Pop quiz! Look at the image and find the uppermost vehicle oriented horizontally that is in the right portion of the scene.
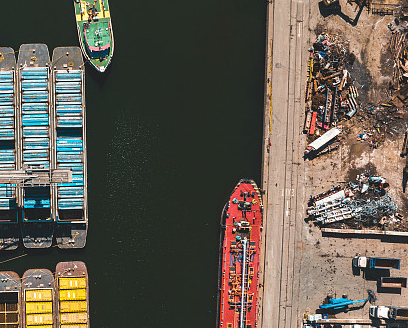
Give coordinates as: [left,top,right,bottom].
[349,255,403,270]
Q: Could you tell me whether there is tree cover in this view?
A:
No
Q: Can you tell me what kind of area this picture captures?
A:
port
